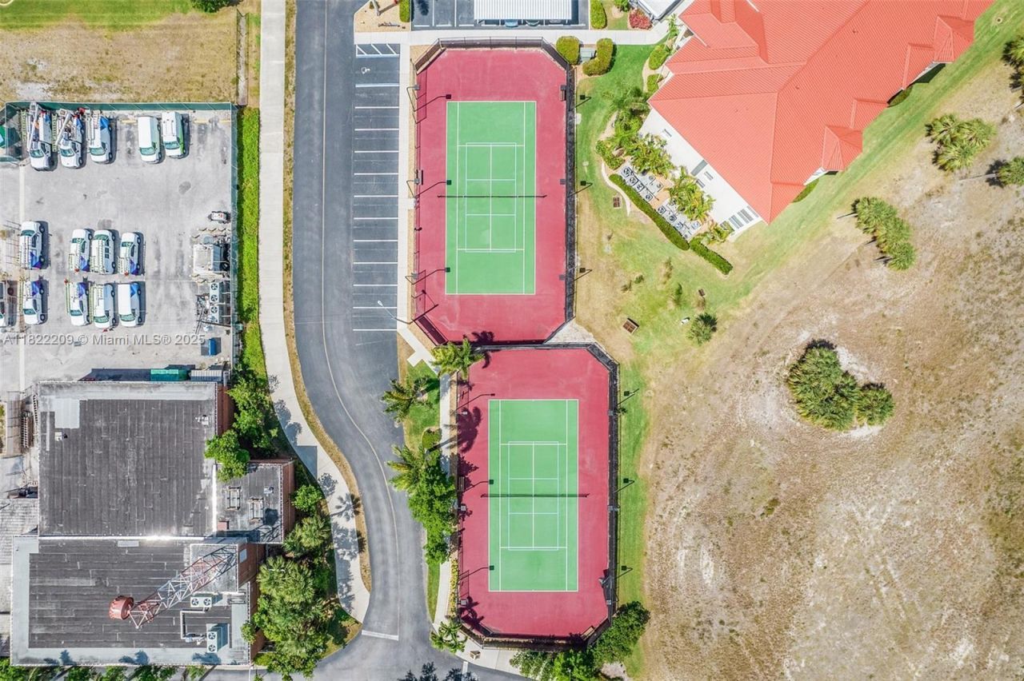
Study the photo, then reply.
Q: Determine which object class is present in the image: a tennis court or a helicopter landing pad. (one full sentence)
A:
There is a tennis court in the scene.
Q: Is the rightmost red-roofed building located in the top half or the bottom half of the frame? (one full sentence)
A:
The rightmost red-roofed building sits in the top half of the picture.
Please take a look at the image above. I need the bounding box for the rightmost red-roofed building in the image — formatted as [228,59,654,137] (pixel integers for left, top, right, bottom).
[639,0,995,230]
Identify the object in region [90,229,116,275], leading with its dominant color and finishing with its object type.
white vehicle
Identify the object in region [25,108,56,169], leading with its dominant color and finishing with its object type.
white truck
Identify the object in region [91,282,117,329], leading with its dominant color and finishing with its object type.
white vehicle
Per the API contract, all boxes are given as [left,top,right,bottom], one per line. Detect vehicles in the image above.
[548,21,563,30]
[90,229,116,275]
[68,228,93,273]
[161,110,185,160]
[23,279,48,325]
[118,232,142,277]
[138,114,163,165]
[504,21,520,30]
[25,108,56,169]
[89,114,114,165]
[524,21,539,30]
[67,281,92,326]
[480,21,495,30]
[56,110,85,171]
[23,223,49,268]
[91,282,117,329]
[118,281,143,329]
